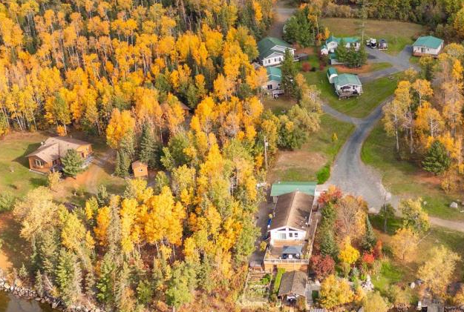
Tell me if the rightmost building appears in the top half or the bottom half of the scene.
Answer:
top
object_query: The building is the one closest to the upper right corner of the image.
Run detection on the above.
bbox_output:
[411,35,444,60]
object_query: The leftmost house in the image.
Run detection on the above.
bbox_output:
[22,137,103,181]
